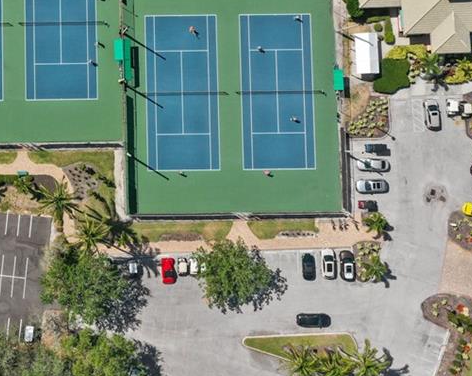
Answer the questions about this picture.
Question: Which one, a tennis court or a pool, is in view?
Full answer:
I can see a tennis court in this picture.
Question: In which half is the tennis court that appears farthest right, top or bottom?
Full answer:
You can find the tennis court that appears farthest right in the top half.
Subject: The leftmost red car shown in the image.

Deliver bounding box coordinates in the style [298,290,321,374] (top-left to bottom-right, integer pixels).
[161,256,176,285]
